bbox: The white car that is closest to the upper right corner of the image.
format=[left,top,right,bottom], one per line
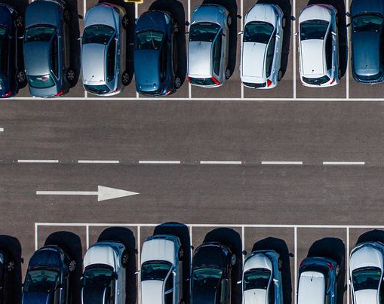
[292,4,342,87]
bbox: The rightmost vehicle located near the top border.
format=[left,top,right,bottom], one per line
[344,0,384,84]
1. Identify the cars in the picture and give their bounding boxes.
[130,11,180,95]
[0,4,25,98]
[74,4,128,95]
[185,240,236,304]
[133,233,186,304]
[237,249,285,304]
[19,244,74,304]
[344,0,384,84]
[236,4,286,90]
[19,0,75,98]
[292,4,342,87]
[345,240,384,304]
[75,240,130,304]
[298,257,339,304]
[180,5,232,87]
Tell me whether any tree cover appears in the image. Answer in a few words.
No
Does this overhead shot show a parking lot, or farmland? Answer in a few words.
parking lot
